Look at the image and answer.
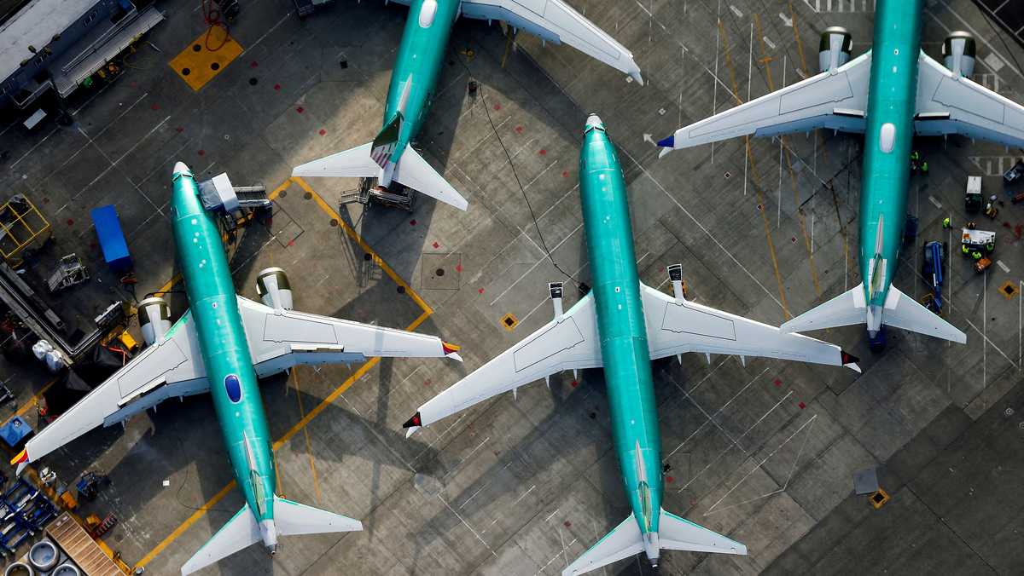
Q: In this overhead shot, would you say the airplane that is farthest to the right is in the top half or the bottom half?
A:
top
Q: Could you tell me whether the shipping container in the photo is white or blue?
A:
blue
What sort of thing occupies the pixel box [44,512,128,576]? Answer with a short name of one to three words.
trailer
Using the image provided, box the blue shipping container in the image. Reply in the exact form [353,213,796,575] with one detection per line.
[92,205,132,277]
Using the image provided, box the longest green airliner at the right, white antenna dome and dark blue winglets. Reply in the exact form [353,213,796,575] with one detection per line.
[657,0,1024,344]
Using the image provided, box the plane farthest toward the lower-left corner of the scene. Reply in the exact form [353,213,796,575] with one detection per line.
[13,162,463,576]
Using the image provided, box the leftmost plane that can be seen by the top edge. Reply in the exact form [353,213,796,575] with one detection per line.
[292,0,643,210]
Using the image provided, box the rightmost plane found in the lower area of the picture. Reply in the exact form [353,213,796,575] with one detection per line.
[401,116,861,576]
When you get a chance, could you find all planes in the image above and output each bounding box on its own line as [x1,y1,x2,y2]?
[13,162,463,576]
[401,116,861,576]
[657,0,1024,344]
[292,0,643,210]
